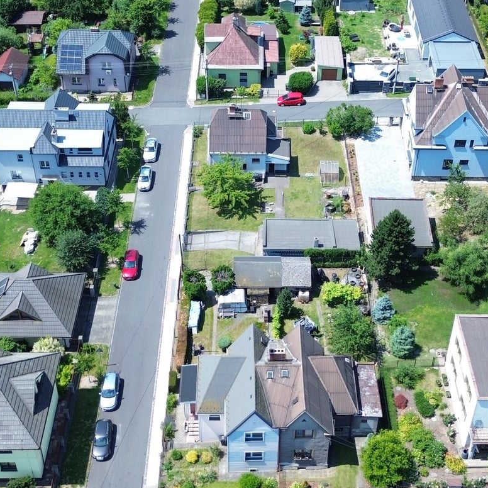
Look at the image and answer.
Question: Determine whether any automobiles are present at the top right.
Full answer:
Yes, an automobile is visible at the top right.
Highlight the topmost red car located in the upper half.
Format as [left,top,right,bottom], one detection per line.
[278,92,304,105]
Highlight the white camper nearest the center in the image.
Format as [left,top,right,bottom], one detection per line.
[217,289,248,317]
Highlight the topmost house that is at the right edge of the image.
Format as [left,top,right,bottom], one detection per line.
[410,0,486,78]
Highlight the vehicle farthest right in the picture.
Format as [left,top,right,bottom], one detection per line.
[378,62,400,81]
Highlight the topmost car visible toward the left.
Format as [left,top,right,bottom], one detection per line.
[141,134,159,158]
